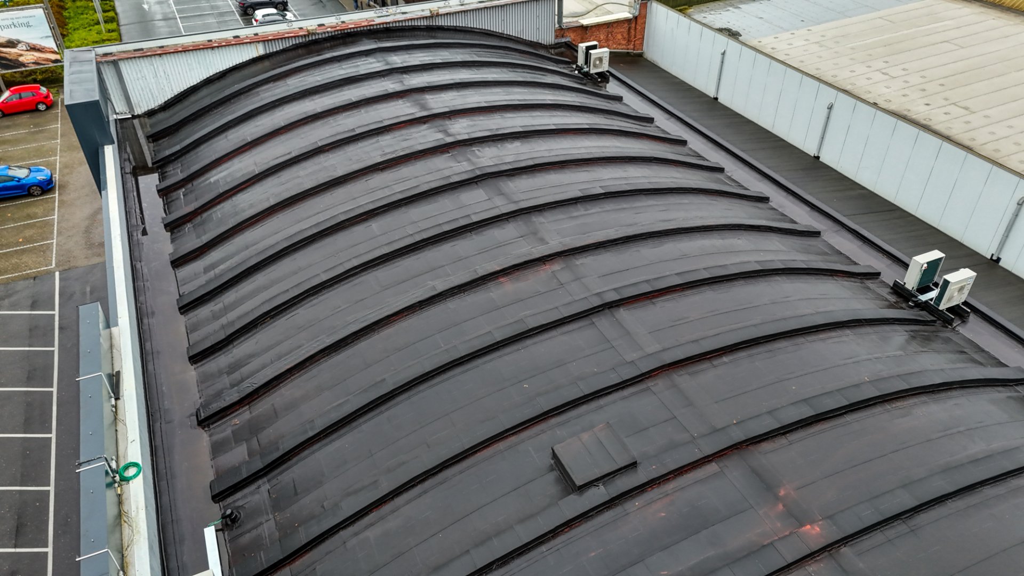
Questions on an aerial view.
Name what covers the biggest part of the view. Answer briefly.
buildings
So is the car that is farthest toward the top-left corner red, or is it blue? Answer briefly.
red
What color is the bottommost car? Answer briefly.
blue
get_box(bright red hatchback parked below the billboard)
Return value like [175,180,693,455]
[0,83,51,116]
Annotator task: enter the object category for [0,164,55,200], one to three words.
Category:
car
